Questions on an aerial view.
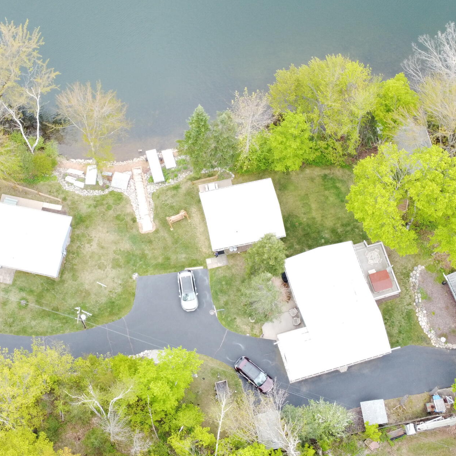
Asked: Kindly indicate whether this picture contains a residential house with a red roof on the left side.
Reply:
No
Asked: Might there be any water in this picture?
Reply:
Yes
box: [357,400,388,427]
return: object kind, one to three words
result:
shed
